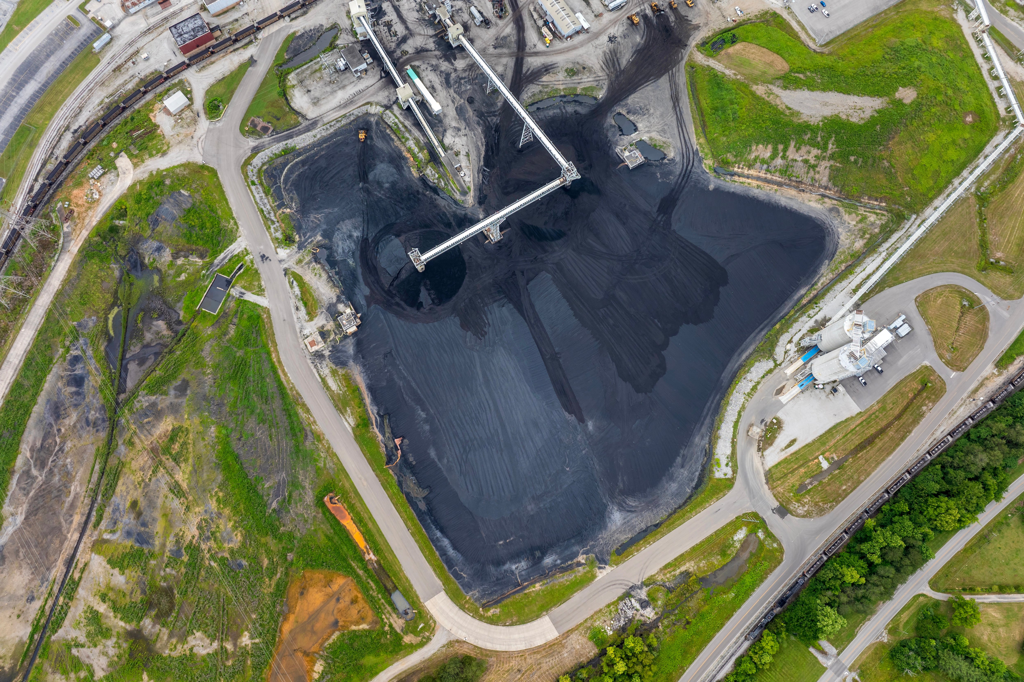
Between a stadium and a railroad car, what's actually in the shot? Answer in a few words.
railroad car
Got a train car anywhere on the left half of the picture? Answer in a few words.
Yes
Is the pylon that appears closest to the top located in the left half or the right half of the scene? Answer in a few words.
left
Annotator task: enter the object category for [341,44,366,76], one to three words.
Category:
building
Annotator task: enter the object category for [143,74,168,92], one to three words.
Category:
rail car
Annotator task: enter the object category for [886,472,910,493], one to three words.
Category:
rail car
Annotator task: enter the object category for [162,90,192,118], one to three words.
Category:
shed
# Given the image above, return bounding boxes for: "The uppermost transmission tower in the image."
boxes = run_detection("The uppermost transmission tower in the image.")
[0,206,58,251]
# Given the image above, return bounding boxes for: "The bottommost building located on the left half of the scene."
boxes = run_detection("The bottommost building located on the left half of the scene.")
[337,301,361,333]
